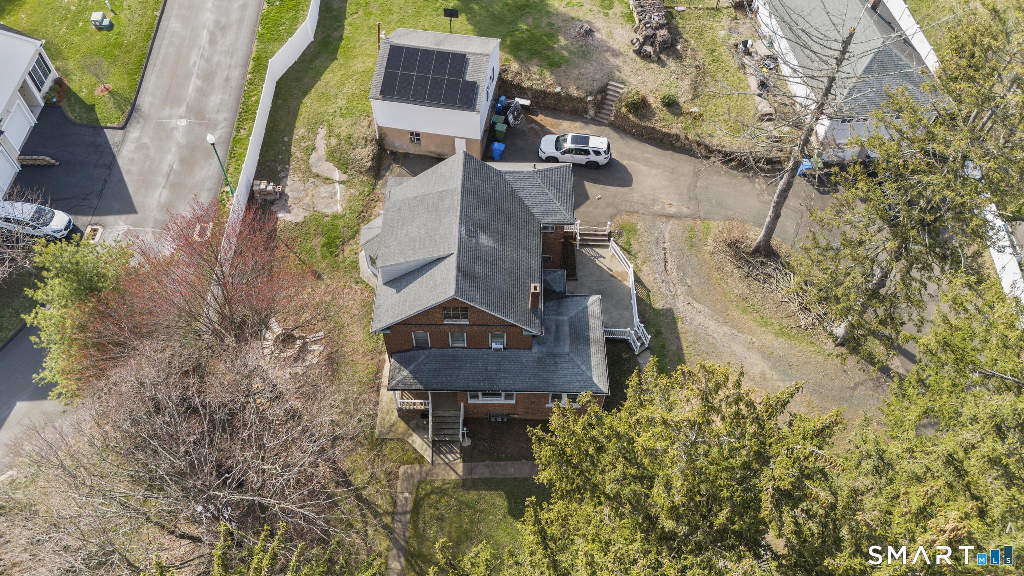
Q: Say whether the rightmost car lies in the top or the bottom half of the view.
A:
top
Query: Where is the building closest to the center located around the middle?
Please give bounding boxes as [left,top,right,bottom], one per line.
[359,151,610,420]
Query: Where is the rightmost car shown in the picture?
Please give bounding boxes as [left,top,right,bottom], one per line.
[536,132,615,173]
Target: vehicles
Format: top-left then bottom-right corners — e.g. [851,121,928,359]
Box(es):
[536,132,615,173]
[0,200,75,244]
